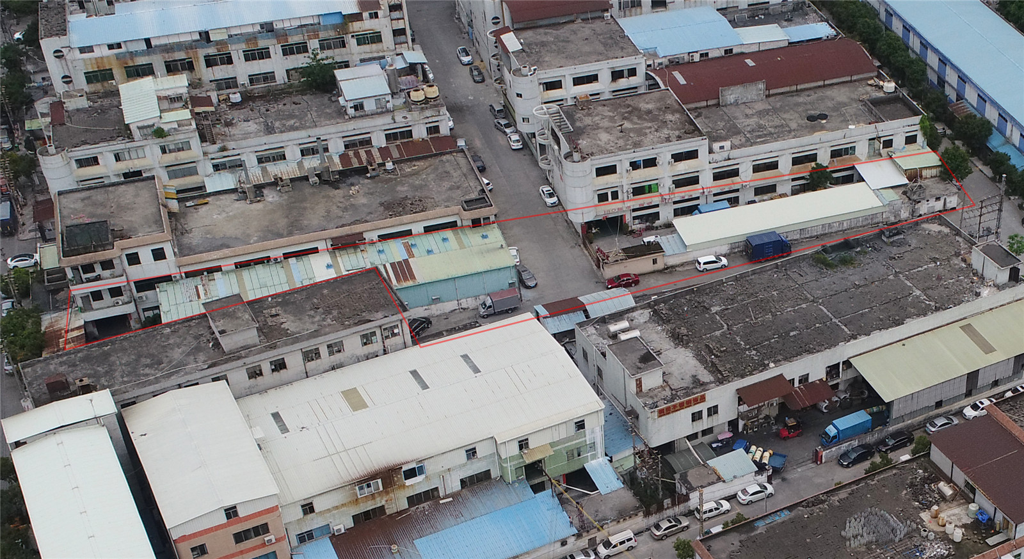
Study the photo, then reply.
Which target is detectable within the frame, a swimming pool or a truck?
truck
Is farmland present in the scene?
No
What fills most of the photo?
buildings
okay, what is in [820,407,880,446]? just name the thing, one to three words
truck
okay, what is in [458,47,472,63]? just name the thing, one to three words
car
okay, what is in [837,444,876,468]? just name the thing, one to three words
car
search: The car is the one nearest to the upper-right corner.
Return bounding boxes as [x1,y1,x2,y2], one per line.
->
[931,119,949,134]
